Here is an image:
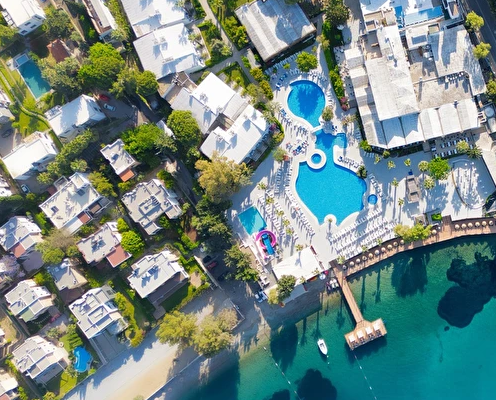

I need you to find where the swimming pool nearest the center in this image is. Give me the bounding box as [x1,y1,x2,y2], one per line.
[235,205,267,236]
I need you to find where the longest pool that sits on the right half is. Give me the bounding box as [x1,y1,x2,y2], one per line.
[284,77,369,230]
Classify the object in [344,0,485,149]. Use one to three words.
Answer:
building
